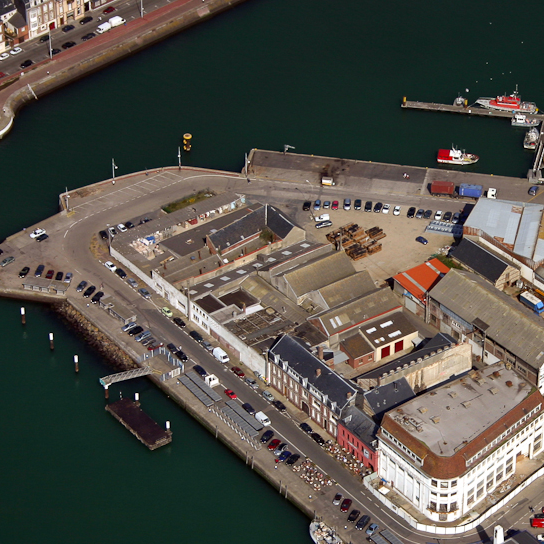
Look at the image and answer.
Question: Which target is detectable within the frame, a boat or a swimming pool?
boat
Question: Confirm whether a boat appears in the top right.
Yes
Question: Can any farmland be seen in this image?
No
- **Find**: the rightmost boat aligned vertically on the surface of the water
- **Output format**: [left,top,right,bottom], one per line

[525,128,538,150]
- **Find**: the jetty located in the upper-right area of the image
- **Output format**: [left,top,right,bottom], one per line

[402,101,544,169]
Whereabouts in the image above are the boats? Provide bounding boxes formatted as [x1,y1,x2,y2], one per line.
[511,114,538,127]
[525,128,538,150]
[455,95,463,108]
[474,88,539,115]
[437,146,481,165]
[307,520,336,544]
